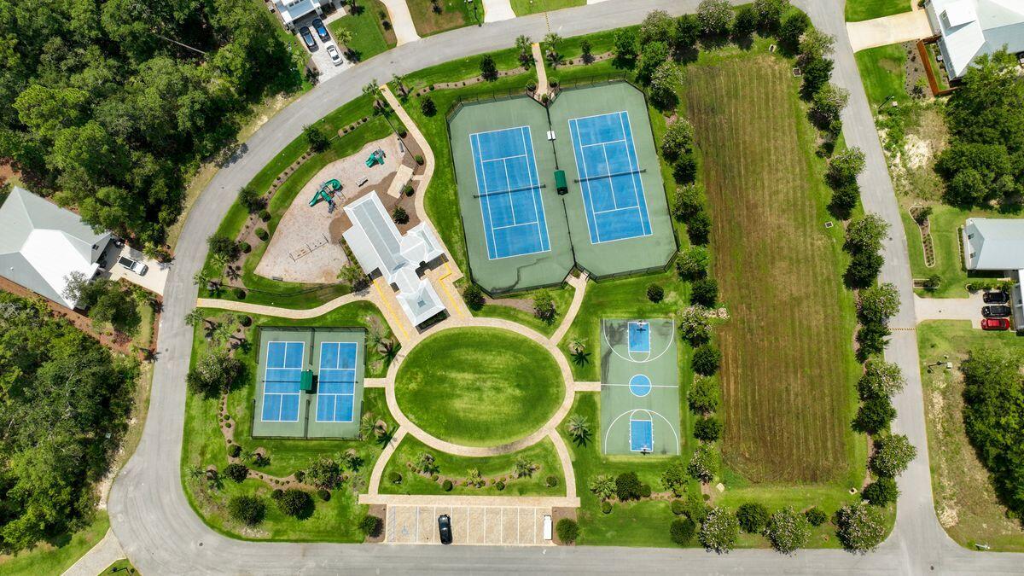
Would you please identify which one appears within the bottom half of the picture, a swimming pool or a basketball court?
basketball court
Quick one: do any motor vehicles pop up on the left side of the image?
Yes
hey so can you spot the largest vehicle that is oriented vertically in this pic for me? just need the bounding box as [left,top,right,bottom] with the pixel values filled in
[437,513,452,546]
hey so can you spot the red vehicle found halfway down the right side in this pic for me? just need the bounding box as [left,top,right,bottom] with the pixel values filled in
[981,318,1008,330]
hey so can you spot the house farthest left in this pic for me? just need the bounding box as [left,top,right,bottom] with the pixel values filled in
[0,186,116,308]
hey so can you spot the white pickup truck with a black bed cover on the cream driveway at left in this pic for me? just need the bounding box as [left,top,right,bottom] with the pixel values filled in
[116,254,152,276]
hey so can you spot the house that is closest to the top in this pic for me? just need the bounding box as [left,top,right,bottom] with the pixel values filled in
[272,0,330,31]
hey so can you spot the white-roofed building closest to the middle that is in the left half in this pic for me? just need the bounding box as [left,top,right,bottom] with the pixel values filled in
[342,191,446,327]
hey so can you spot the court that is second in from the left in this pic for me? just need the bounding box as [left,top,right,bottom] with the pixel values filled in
[306,329,365,439]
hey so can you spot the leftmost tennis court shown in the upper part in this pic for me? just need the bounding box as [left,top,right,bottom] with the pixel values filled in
[449,97,576,296]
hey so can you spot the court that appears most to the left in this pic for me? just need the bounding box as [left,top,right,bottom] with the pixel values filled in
[253,329,312,438]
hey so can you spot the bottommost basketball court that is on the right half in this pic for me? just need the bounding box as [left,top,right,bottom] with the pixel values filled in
[601,319,681,455]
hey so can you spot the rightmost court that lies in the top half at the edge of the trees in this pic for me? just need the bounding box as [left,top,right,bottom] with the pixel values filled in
[547,82,678,280]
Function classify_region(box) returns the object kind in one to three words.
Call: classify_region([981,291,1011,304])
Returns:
vehicle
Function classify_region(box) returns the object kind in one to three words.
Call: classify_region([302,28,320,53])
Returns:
car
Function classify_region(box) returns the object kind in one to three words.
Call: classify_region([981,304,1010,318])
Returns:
car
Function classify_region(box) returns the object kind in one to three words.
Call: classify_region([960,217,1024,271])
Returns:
house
